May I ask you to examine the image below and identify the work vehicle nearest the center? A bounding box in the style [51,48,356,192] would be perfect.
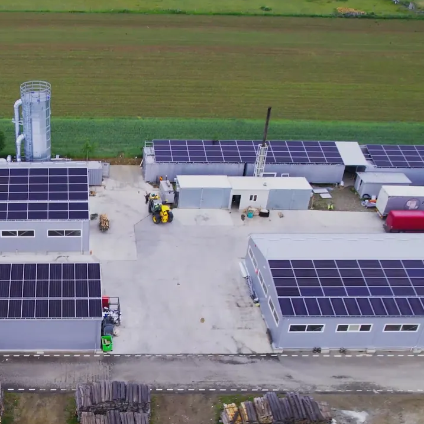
[144,189,175,224]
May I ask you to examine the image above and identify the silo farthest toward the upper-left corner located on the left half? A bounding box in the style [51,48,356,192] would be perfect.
[11,79,75,164]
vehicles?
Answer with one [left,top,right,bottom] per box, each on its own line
[373,185,424,221]
[144,189,175,224]
[102,311,115,339]
[382,208,424,235]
